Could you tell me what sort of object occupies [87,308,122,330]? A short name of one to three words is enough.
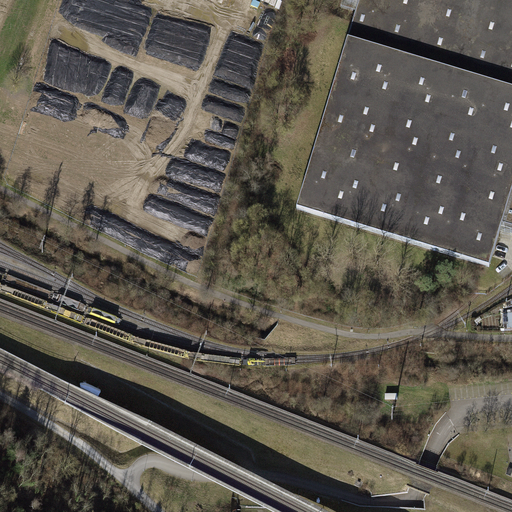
rail car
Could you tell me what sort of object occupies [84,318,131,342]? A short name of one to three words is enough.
rail car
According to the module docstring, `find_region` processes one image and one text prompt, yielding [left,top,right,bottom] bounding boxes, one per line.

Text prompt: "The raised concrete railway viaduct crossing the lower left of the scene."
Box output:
[0,348,329,512]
